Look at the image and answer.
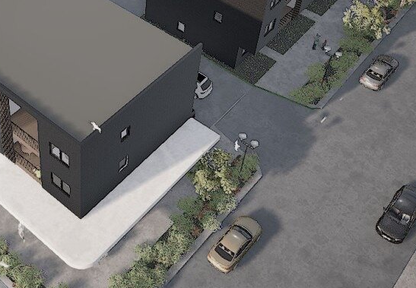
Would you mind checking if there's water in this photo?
No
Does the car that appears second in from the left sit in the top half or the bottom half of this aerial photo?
bottom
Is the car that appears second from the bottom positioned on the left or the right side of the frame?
right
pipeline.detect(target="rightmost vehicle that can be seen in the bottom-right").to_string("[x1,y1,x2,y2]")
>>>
[376,189,416,244]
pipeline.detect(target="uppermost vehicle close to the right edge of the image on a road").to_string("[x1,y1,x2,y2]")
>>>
[363,58,398,91]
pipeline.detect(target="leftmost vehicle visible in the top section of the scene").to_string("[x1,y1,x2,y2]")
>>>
[194,70,218,101]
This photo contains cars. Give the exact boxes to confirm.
[208,219,259,275]
[363,58,398,91]
[194,70,218,101]
[376,189,416,244]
